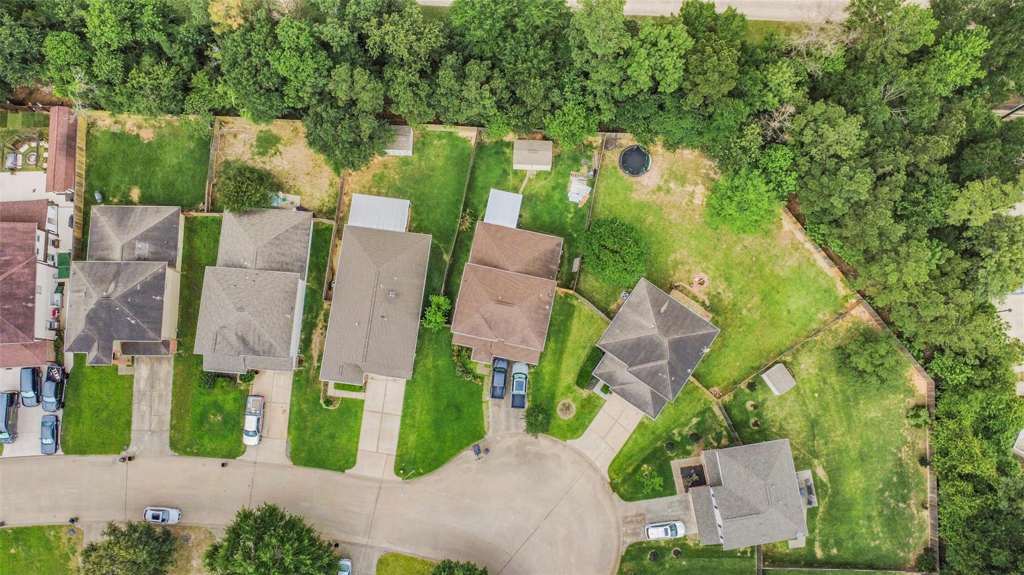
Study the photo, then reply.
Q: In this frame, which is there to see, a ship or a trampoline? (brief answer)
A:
trampoline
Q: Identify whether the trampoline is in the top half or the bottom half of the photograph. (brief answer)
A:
top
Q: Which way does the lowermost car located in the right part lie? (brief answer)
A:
horizontally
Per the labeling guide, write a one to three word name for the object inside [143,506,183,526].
car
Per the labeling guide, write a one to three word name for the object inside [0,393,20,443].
vehicle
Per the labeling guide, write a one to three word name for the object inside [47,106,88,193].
shed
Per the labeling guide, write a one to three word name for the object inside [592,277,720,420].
house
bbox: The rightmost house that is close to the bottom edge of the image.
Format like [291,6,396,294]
[689,438,809,550]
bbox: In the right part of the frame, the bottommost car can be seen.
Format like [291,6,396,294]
[644,520,686,540]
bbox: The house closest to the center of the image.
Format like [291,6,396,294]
[450,221,564,366]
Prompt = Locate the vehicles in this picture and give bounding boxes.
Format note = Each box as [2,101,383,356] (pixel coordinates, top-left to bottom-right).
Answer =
[644,520,686,540]
[20,367,44,408]
[43,366,67,412]
[0,393,20,443]
[143,506,183,526]
[39,415,61,455]
[336,556,354,575]
[490,357,509,399]
[243,395,265,445]
[511,362,530,409]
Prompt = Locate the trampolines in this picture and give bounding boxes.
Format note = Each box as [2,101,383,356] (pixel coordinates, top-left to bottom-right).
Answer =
[620,141,656,176]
